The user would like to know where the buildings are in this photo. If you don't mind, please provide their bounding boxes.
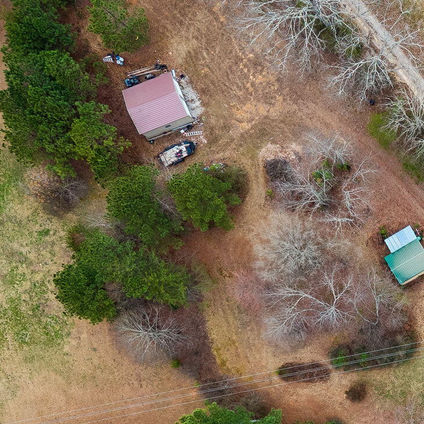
[378,227,424,285]
[122,72,194,140]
